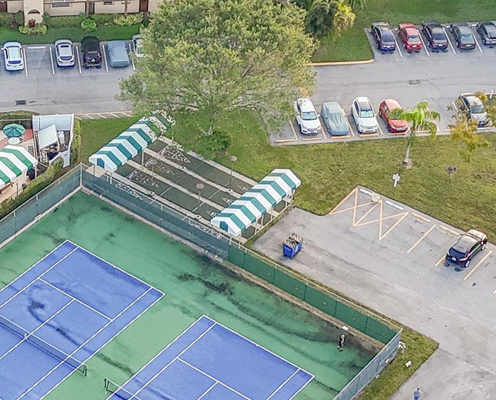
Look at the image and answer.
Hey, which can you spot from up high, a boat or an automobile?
automobile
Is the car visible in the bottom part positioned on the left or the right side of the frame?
right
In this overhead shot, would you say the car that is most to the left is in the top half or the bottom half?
top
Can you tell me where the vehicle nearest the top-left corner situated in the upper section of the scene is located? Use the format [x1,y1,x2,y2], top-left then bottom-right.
[1,44,23,73]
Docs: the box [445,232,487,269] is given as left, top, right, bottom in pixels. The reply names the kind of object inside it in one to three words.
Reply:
car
